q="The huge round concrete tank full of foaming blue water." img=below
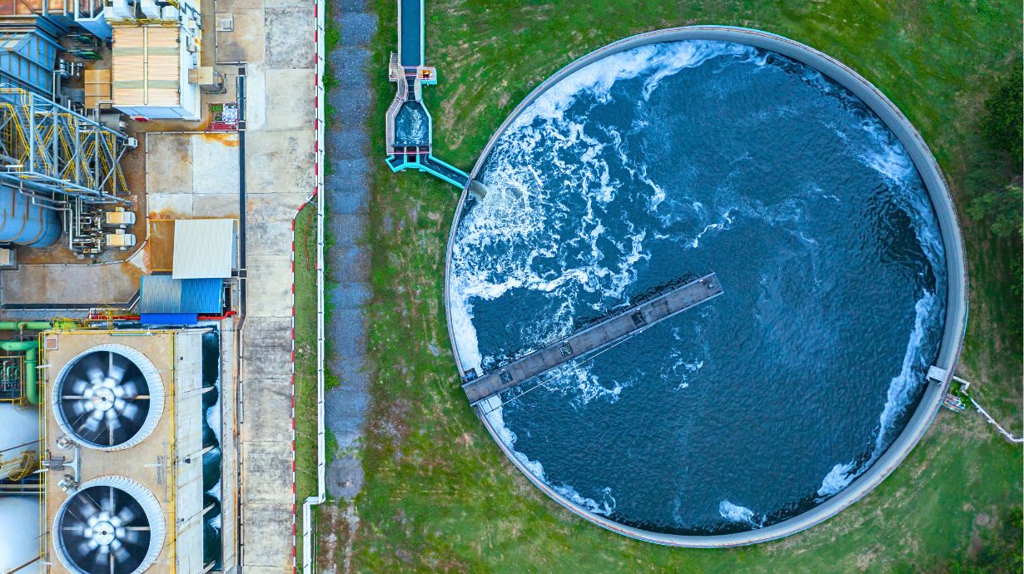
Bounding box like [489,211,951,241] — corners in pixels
[444,25,968,549]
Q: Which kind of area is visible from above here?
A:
industrial area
